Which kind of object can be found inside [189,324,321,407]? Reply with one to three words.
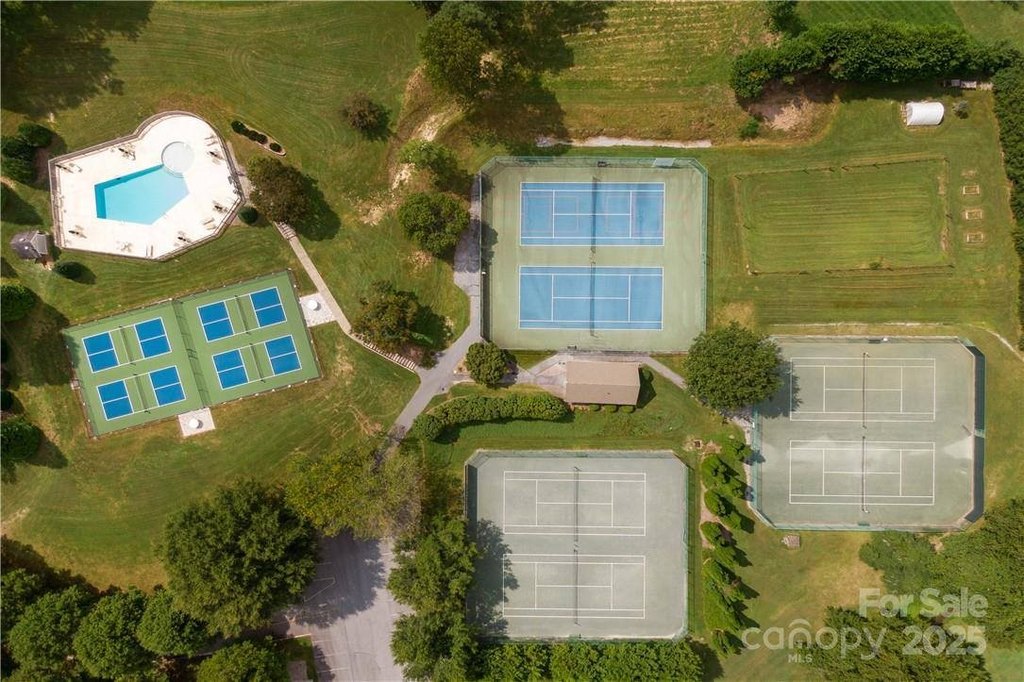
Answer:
sports court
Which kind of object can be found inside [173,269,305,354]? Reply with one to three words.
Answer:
sports court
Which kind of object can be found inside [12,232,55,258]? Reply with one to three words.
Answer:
building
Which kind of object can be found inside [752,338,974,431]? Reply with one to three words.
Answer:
tennis court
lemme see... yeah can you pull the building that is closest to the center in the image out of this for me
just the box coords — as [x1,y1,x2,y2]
[566,360,641,406]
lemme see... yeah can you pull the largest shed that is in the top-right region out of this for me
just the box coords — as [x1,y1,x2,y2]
[905,102,944,126]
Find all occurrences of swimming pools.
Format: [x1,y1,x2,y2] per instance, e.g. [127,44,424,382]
[52,111,251,264]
